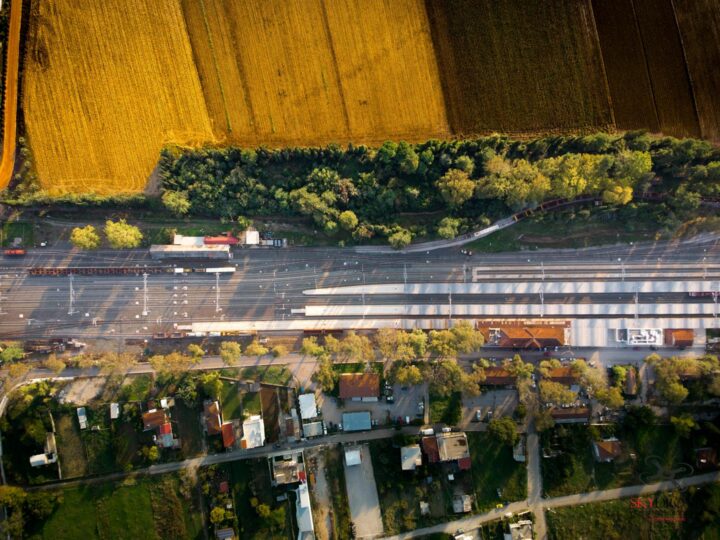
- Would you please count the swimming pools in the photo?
none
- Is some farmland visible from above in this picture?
Yes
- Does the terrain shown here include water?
No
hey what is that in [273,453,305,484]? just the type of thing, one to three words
house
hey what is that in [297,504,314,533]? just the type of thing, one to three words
building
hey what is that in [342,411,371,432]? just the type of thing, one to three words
building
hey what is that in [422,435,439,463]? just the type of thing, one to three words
house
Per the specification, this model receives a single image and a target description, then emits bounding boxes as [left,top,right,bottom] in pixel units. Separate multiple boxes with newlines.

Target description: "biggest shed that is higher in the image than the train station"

[149,245,233,259]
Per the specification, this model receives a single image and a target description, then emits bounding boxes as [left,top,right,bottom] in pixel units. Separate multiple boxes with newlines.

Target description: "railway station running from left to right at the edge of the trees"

[176,266,720,347]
